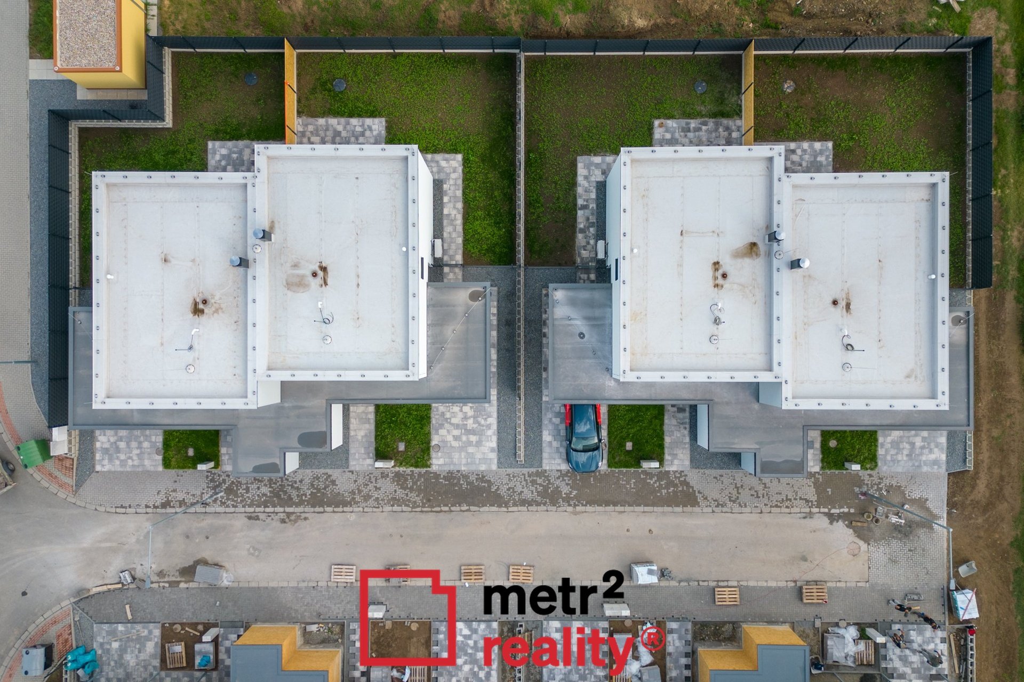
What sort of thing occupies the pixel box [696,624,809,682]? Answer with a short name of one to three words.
house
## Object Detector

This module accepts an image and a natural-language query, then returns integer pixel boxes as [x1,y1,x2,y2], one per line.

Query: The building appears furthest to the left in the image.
[54,0,147,89]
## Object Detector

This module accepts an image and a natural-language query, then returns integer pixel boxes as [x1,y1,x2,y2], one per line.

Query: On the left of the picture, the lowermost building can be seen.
[231,625,342,682]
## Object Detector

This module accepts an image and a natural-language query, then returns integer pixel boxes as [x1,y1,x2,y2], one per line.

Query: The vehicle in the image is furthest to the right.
[562,405,606,473]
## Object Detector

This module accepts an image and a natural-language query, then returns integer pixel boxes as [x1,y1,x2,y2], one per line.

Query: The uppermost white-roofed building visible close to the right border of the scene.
[741,172,975,478]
